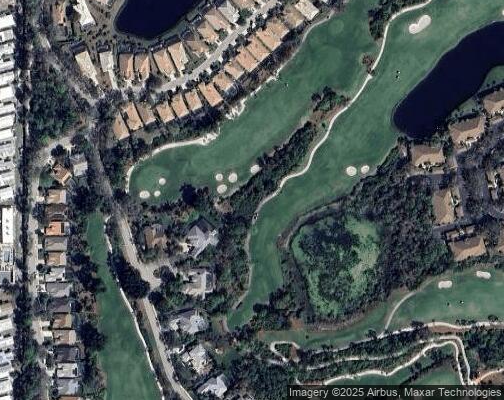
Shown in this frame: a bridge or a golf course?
golf course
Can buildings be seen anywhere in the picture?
Yes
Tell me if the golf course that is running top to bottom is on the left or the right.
left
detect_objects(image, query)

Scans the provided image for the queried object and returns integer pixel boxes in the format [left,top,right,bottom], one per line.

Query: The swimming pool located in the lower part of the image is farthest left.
[0,246,14,266]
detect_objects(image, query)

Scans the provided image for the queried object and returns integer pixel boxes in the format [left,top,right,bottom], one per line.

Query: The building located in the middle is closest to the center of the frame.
[185,220,221,254]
